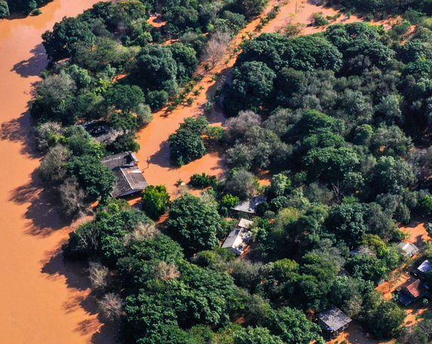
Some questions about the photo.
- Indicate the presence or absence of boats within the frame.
No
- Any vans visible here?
No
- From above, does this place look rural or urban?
rural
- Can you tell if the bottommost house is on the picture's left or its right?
right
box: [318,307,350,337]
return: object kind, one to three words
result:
house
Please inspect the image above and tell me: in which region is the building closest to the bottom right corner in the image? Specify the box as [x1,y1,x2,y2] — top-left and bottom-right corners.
[393,280,431,310]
